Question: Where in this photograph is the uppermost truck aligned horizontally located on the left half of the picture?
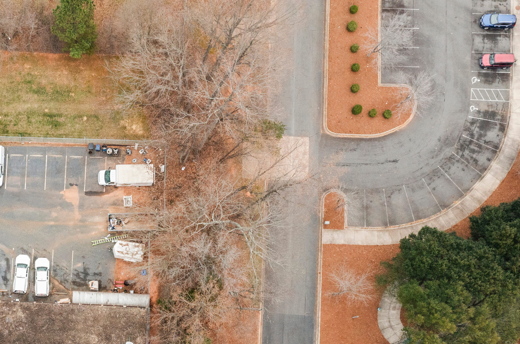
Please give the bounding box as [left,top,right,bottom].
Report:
[99,164,156,188]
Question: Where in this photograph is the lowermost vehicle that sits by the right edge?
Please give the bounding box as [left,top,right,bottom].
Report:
[478,52,520,70]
